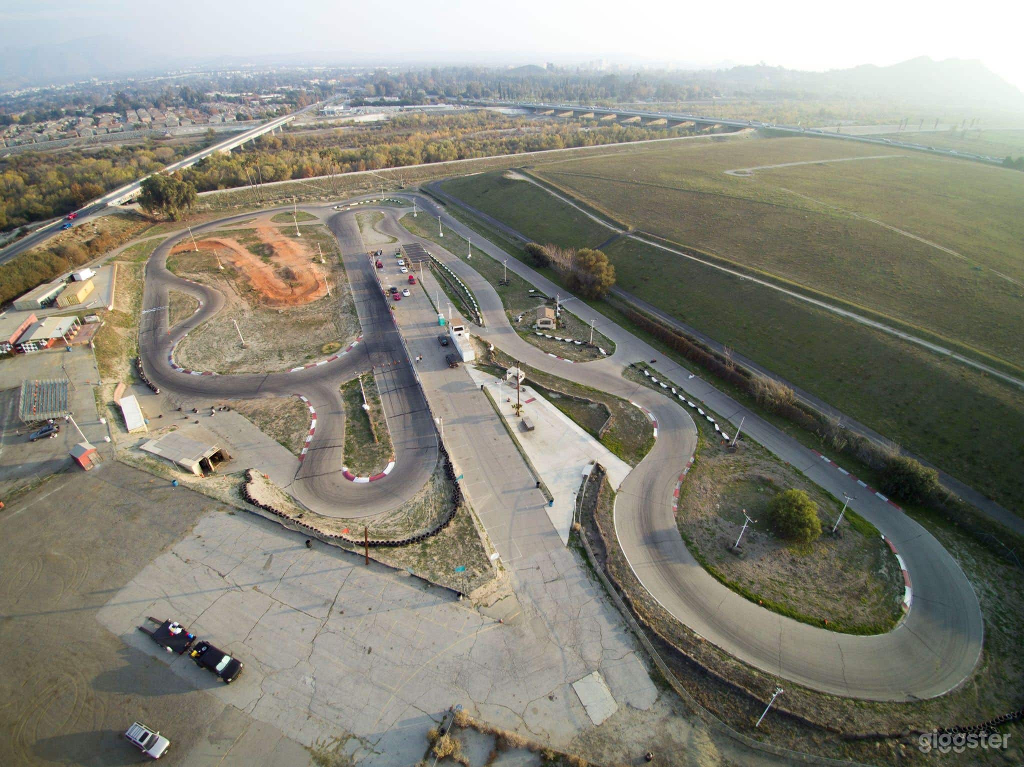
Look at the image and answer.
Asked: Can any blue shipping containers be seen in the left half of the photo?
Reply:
No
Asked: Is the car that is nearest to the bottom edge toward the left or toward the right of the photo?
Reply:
left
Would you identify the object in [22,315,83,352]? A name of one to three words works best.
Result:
building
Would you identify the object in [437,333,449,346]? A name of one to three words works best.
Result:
vehicle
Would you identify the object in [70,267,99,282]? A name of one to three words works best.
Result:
vehicle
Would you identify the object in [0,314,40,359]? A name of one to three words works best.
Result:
building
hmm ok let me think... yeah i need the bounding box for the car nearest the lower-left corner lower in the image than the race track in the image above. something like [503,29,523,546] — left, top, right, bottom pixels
[118,718,173,762]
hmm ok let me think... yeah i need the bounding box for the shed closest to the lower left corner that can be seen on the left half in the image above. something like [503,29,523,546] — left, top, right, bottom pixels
[54,444,108,471]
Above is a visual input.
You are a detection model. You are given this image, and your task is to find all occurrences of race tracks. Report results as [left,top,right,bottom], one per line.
[126,192,983,702]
